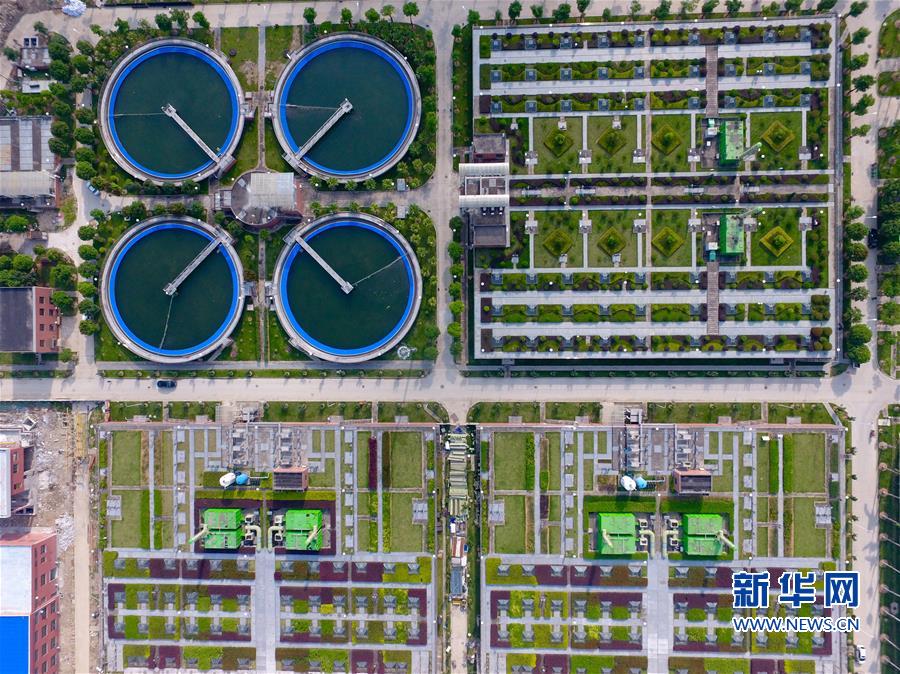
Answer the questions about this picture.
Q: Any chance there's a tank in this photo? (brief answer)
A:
Yes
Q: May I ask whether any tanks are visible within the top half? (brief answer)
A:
Yes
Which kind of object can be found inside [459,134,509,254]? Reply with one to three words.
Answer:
building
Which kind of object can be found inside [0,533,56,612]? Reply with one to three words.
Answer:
building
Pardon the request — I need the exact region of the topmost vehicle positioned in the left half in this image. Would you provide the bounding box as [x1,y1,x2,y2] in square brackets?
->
[84,180,102,197]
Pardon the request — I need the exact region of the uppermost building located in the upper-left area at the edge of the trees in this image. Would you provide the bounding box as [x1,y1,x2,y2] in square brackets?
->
[18,38,61,80]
